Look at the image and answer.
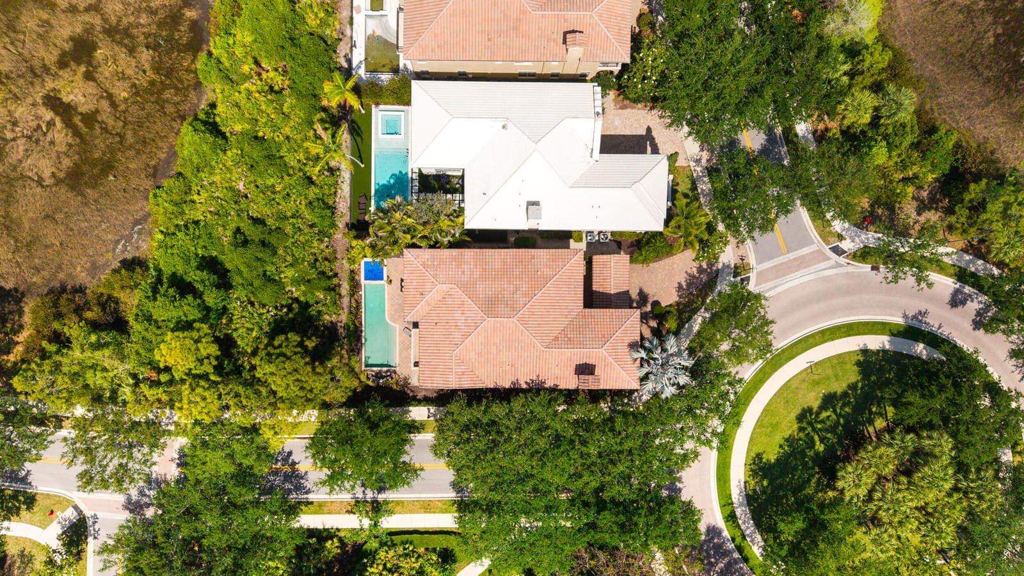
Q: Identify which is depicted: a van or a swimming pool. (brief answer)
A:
swimming pool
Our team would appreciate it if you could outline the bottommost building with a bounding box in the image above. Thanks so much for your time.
[402,248,641,391]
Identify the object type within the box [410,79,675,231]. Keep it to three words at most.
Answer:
house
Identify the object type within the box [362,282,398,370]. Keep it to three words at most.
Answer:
swimming pool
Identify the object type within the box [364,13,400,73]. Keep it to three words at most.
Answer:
swimming pool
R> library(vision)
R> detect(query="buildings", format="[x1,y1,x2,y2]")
[403,0,632,79]
[402,248,641,391]
[410,79,675,231]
